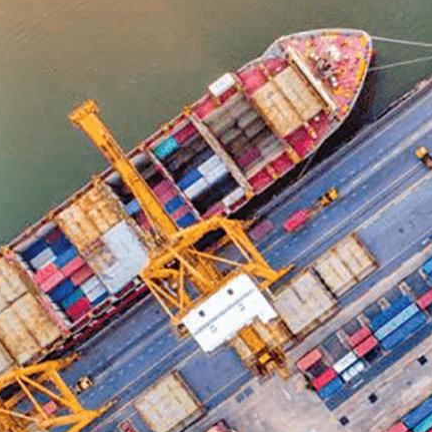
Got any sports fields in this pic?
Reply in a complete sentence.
No, I can't see a single sports field in this photo.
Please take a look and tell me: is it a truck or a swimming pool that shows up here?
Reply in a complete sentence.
Of the two, only a truck appears.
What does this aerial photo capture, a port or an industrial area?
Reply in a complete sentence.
What you see here is a port.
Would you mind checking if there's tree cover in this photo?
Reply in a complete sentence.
No, tree cover can't be seen anywhere here.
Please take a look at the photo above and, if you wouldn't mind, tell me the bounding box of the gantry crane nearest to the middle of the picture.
[66,102,293,386]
